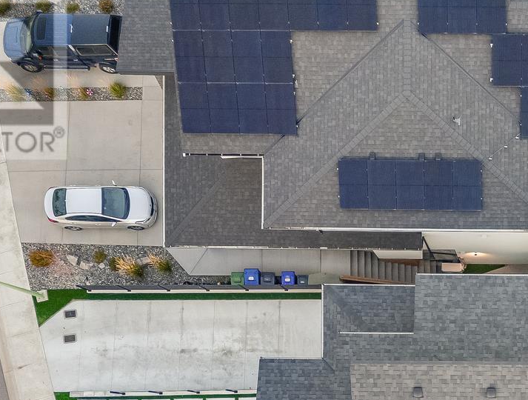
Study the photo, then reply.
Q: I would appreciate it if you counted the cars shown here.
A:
2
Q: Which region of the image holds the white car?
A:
left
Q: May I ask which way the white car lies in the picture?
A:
horizontally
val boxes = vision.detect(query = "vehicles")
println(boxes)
[3,9,122,76]
[45,173,159,231]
